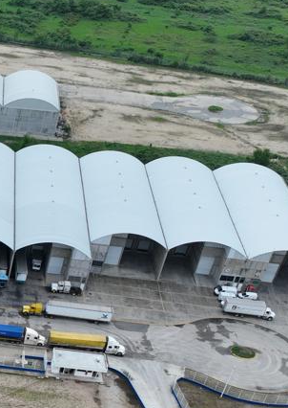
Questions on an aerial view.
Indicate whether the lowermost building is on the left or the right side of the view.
left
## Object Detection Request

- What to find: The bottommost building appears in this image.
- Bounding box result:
[45,348,108,386]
